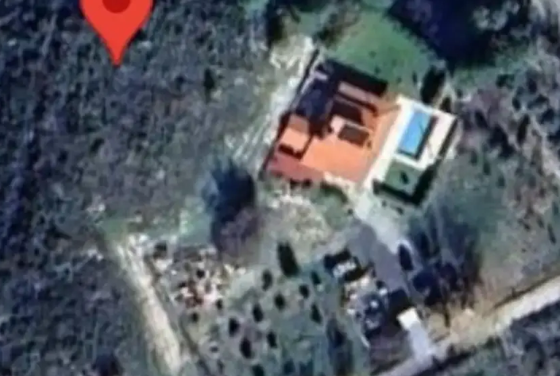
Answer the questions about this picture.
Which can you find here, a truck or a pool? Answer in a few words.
pool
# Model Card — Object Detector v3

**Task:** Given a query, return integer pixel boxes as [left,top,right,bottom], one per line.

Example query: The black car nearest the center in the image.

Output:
[330,248,353,265]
